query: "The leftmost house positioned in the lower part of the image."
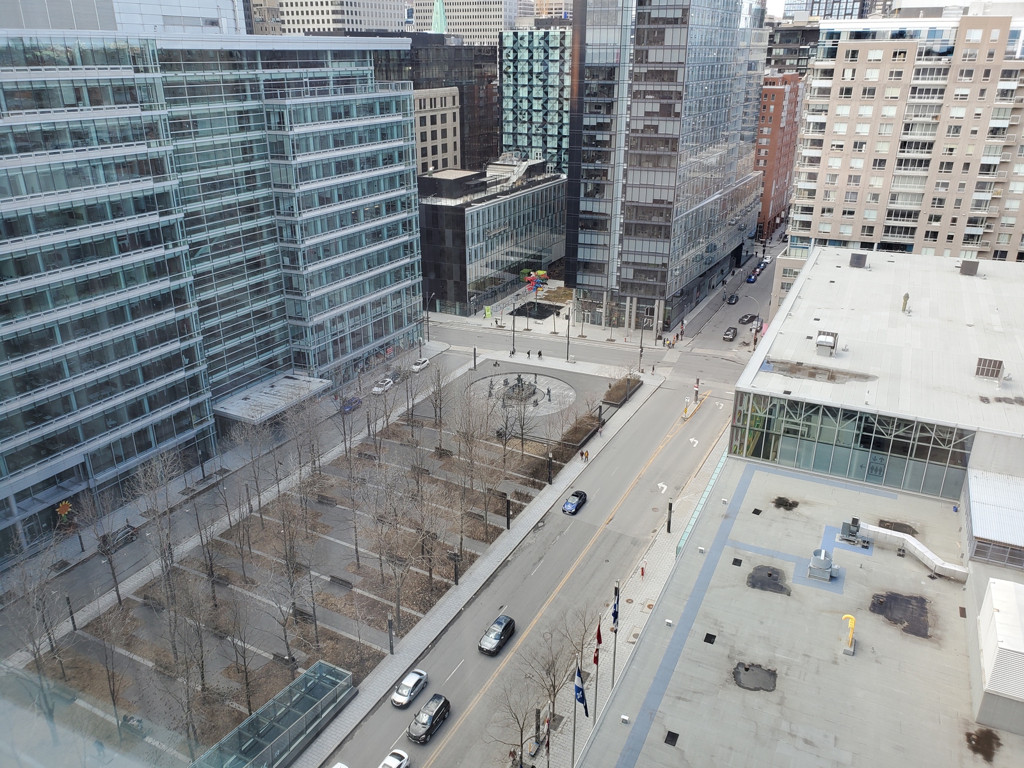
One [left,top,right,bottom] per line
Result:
[201,657,360,768]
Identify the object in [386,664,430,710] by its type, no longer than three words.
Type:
car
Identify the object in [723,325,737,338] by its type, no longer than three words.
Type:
vehicle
